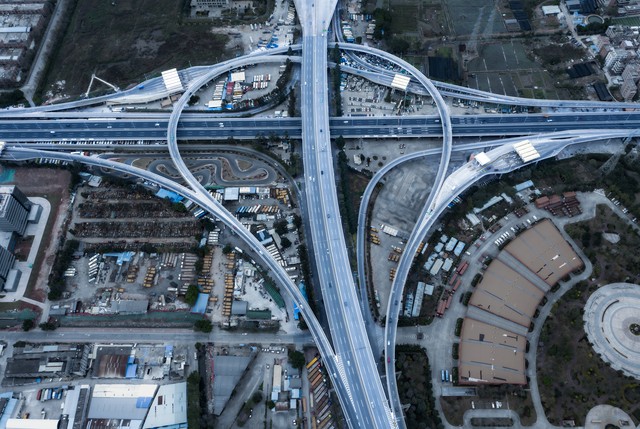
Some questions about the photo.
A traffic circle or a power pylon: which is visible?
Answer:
power pylon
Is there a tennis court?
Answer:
No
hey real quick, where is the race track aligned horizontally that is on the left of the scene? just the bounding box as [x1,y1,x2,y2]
[95,151,287,191]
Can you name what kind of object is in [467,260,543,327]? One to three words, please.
building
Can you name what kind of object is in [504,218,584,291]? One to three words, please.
building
